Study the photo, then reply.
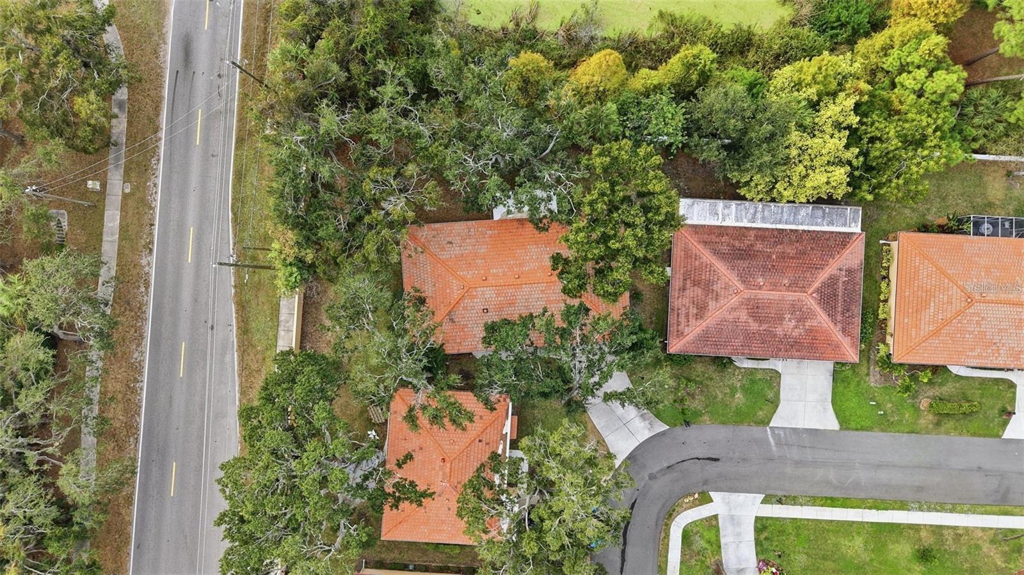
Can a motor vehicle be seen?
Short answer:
No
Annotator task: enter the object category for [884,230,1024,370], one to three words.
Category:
house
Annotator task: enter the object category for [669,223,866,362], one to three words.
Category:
house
